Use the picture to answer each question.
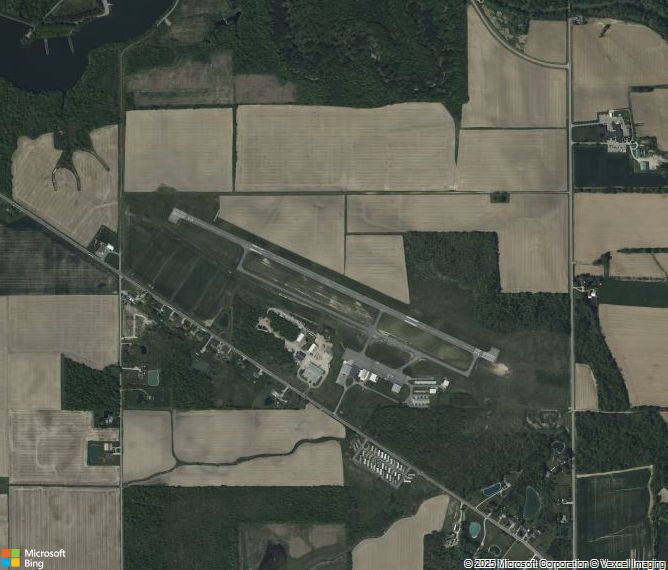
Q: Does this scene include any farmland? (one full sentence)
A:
Yes, some farmland is visible.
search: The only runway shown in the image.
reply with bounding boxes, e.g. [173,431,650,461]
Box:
[168,207,500,362]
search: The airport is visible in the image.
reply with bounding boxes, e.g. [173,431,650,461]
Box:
[168,207,500,415]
